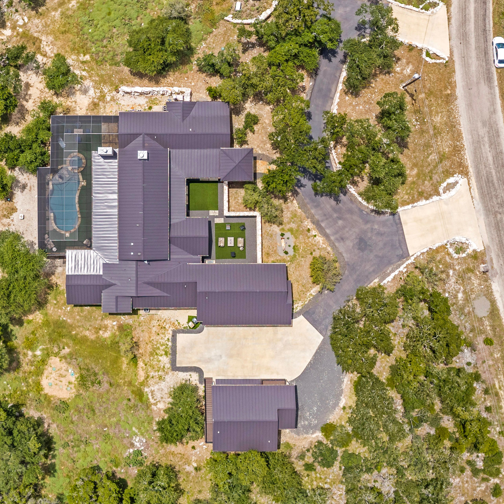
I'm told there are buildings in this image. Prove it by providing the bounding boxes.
[65,101,292,325]
[205,376,296,452]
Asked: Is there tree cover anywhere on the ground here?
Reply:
Yes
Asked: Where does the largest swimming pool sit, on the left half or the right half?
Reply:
left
